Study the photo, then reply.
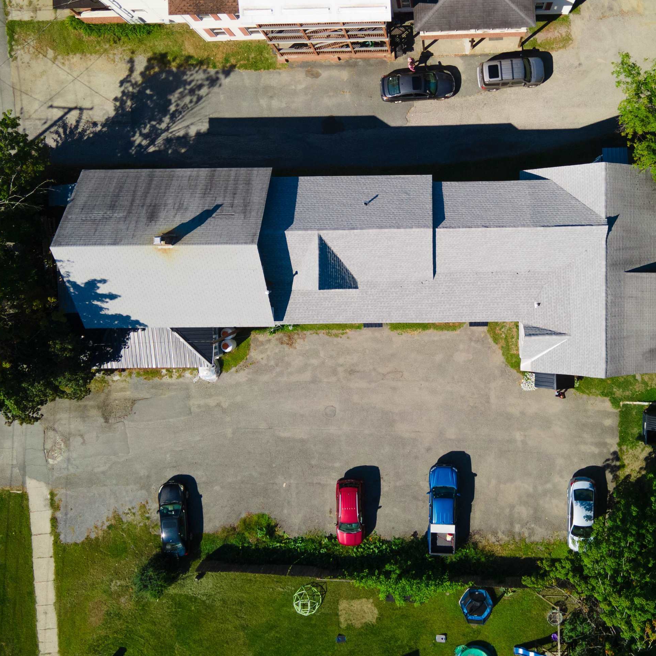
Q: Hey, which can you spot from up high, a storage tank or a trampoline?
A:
trampoline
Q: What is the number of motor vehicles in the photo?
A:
6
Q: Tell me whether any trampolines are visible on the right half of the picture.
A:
Yes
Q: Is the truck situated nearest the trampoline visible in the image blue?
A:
Yes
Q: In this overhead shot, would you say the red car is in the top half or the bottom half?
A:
bottom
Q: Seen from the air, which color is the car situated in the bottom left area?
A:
black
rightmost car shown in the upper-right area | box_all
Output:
[475,54,545,93]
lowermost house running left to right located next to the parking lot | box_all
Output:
[52,162,656,379]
